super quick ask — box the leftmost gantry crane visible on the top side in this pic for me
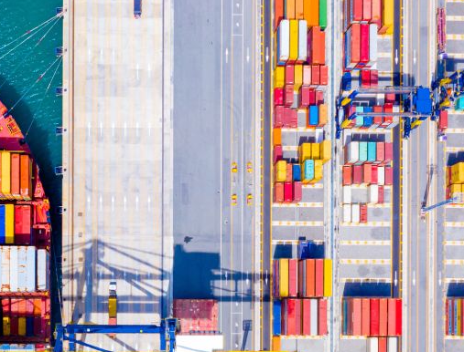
[335,85,436,135]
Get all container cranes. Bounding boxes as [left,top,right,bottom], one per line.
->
[335,85,436,135]
[0,313,311,352]
[432,68,464,120]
